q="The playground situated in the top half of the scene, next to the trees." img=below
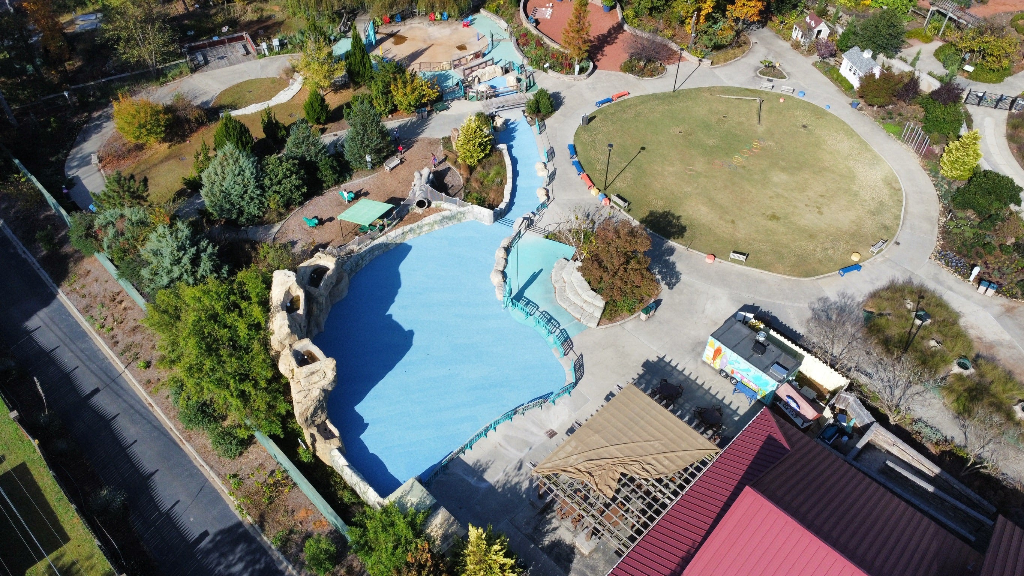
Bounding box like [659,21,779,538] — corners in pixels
[275,135,462,255]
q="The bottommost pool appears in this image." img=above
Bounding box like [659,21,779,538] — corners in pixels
[317,113,567,496]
